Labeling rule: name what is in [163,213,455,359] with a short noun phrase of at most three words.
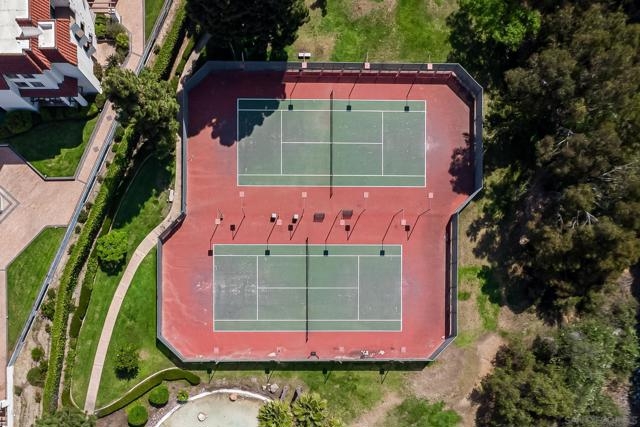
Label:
tennis court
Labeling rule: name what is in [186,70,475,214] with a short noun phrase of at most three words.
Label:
tennis court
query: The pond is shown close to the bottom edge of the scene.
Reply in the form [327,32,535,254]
[158,392,295,427]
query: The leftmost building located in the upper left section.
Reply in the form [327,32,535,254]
[0,0,99,112]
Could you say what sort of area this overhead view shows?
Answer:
sports ground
